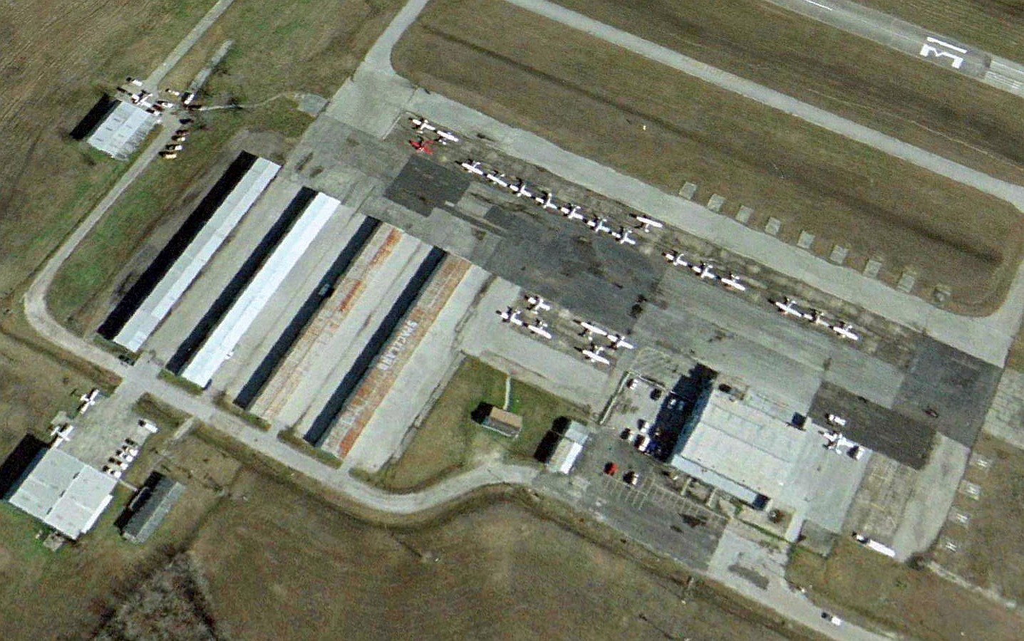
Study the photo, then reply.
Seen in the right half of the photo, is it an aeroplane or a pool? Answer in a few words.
aeroplane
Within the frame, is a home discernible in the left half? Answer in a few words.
Yes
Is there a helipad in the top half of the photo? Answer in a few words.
No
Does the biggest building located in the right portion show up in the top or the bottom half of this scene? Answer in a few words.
bottom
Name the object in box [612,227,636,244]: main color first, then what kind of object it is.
white airplane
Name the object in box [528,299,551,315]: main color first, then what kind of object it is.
white airplane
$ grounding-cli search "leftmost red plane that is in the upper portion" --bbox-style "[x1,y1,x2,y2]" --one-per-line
[410,136,434,154]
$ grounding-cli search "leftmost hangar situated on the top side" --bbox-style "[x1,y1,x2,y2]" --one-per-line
[83,101,156,161]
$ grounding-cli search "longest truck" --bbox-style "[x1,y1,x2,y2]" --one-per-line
[860,536,895,557]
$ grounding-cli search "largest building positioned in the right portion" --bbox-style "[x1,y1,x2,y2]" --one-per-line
[668,363,811,509]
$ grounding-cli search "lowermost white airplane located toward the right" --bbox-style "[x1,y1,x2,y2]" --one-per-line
[824,430,856,455]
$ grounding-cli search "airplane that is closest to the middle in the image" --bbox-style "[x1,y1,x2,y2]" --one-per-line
[501,309,523,325]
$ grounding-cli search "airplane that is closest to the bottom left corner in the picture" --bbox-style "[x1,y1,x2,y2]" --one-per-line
[54,425,74,447]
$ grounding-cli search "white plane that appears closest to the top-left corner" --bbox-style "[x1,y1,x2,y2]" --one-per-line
[132,92,151,107]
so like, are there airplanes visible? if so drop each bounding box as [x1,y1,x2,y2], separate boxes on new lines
[412,119,436,136]
[80,390,98,413]
[637,215,664,234]
[529,320,552,339]
[804,308,830,327]
[462,159,483,175]
[528,299,551,315]
[487,170,507,186]
[54,425,74,447]
[583,344,610,365]
[510,180,532,197]
[581,322,608,341]
[501,309,523,325]
[612,227,636,244]
[693,261,715,279]
[132,92,151,107]
[410,136,434,154]
[535,192,558,209]
[588,215,611,232]
[608,329,635,349]
[437,129,459,146]
[776,297,802,318]
[824,430,856,455]
[561,202,584,219]
[722,273,746,291]
[834,321,859,341]
[666,250,687,266]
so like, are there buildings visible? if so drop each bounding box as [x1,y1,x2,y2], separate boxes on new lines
[42,534,64,550]
[110,158,280,352]
[3,448,116,540]
[668,363,811,509]
[481,407,522,435]
[318,253,471,459]
[248,222,403,420]
[122,475,185,542]
[83,101,156,161]
[178,192,340,387]
[543,421,588,474]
